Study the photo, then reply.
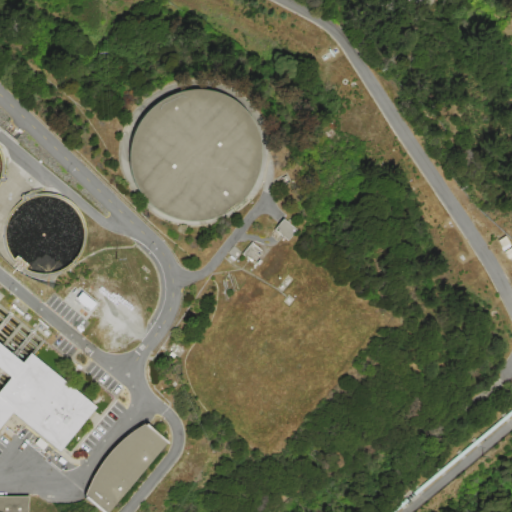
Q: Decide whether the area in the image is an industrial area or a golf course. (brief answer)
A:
industrial area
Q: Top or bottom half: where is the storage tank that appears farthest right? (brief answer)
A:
top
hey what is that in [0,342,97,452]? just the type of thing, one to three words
building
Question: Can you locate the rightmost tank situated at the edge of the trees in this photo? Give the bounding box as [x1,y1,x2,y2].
[130,88,262,220]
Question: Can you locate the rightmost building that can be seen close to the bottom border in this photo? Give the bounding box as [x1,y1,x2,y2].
[85,424,170,512]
